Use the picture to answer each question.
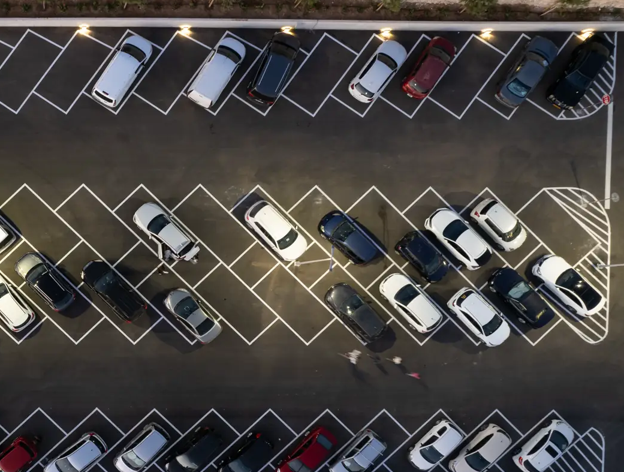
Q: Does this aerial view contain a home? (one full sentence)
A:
No, the photo shows no home.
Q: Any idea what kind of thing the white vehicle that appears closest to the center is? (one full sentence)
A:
From above, the white vehicle that appears closest to the center can be identified as a car.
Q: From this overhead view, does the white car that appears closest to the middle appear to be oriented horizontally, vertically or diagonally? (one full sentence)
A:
The white car that appears closest to the middle has been laid out diagonally relative to the frame.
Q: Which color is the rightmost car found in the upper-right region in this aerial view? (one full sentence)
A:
From above, the rightmost car found in the upper-right region appears black.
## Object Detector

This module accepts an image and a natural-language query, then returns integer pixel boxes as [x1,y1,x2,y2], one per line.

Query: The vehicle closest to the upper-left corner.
[92,36,148,111]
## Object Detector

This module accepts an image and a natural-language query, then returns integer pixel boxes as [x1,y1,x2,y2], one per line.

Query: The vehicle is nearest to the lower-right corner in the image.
[510,417,575,472]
